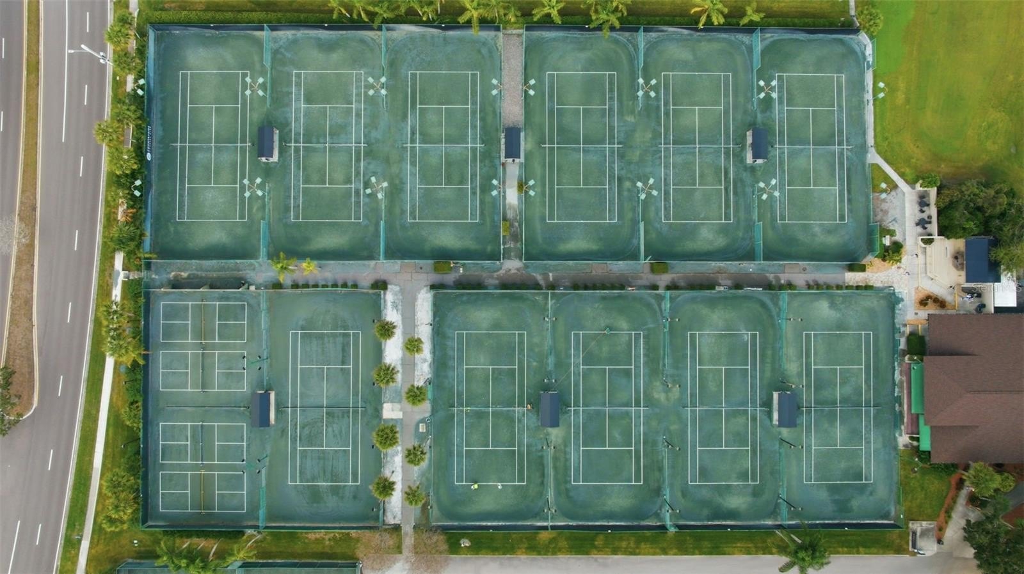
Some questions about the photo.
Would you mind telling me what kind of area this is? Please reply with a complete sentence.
This looks like a sports ground.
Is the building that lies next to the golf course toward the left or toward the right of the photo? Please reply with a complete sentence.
The building that lies next to the golf course sits on the right side.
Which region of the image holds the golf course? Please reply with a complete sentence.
The golf course is in the top right part of the image.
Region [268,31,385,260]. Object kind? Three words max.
tennis court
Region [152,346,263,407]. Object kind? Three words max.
sports court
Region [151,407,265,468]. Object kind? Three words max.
sports court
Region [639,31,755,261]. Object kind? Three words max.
tennis court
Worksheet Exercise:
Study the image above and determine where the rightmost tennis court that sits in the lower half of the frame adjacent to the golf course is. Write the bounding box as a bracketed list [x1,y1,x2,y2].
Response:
[780,291,895,523]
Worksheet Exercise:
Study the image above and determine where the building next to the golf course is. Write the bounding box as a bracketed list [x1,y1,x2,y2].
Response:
[910,313,1024,463]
